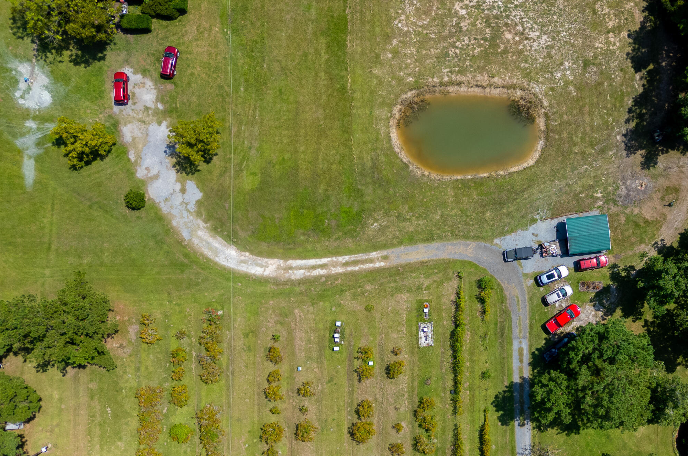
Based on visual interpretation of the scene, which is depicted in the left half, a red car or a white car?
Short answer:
red car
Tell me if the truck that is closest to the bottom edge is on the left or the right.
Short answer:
right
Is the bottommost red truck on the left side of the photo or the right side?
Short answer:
right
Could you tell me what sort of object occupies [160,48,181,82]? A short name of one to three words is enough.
car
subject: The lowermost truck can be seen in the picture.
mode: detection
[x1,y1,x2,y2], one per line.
[539,332,575,366]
